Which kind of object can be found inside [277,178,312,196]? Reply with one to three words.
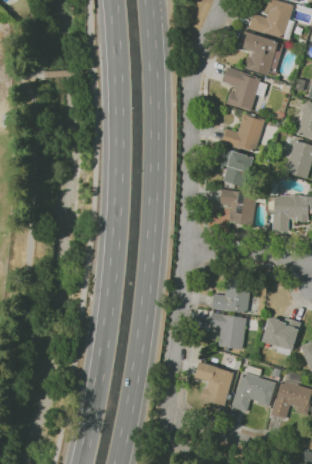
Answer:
swimming pool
